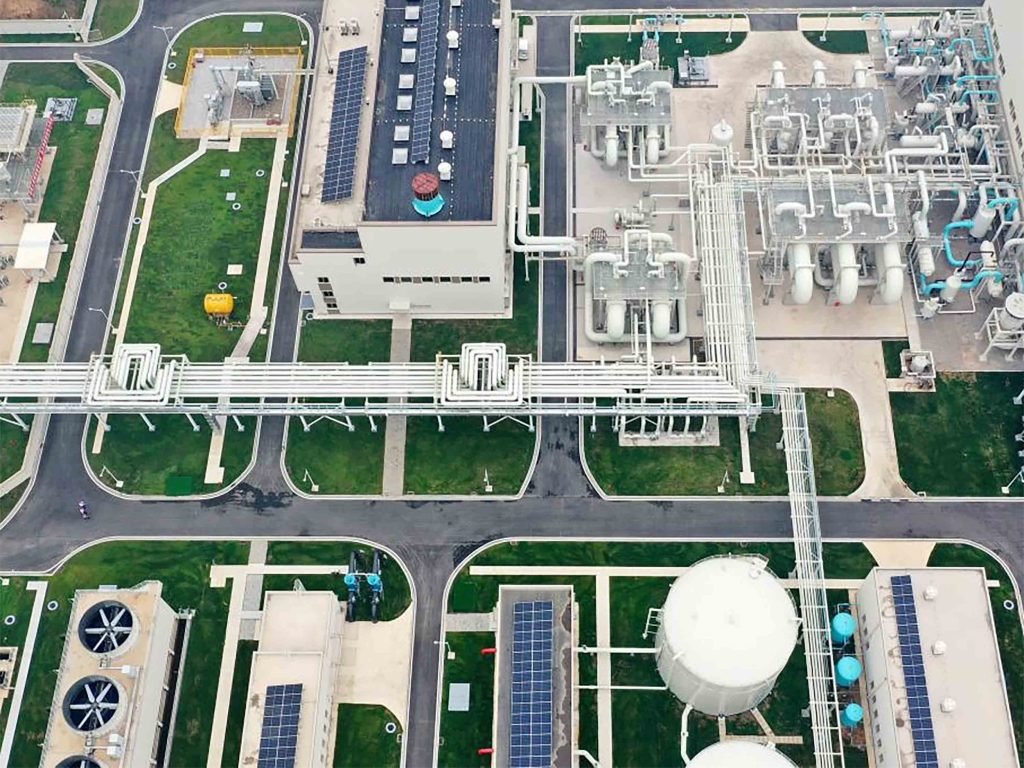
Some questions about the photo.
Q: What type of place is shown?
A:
industrial area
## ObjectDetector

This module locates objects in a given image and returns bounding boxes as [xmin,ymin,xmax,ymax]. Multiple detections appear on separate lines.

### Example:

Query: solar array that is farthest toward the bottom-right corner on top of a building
[890,574,938,768]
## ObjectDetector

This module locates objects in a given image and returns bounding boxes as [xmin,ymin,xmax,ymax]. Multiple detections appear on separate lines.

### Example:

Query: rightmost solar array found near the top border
[412,0,441,162]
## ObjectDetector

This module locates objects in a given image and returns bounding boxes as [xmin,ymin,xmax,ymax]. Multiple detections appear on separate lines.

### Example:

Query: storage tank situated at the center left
[202,293,247,323]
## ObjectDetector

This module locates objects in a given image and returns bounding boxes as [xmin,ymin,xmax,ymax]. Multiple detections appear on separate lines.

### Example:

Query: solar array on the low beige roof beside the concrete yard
[257,684,303,768]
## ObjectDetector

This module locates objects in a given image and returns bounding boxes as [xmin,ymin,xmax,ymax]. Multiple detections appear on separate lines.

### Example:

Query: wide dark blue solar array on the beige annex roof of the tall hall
[323,46,368,201]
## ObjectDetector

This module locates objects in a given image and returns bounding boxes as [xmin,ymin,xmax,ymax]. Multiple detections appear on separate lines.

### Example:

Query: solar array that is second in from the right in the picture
[509,602,552,768]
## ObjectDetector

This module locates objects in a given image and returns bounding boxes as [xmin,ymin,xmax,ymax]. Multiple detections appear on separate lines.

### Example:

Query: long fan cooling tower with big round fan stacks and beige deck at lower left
[35,582,204,768]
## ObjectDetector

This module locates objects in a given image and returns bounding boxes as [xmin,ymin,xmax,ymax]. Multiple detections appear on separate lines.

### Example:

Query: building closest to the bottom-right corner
[859,569,1019,768]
